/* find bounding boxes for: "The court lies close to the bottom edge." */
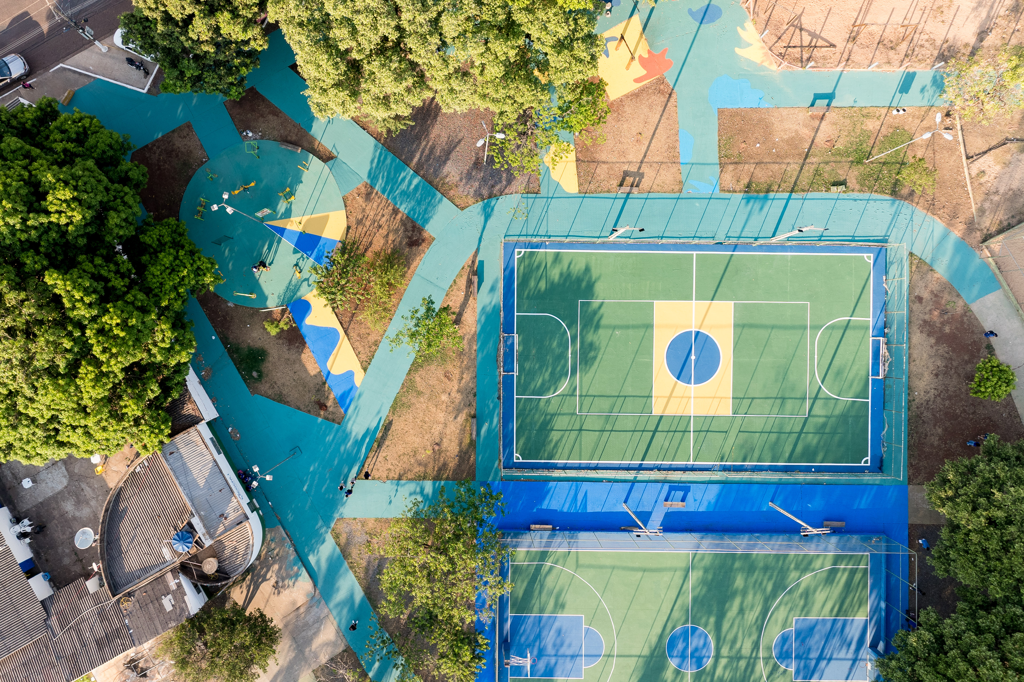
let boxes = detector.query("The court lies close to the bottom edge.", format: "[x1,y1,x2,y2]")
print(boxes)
[498,535,881,682]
